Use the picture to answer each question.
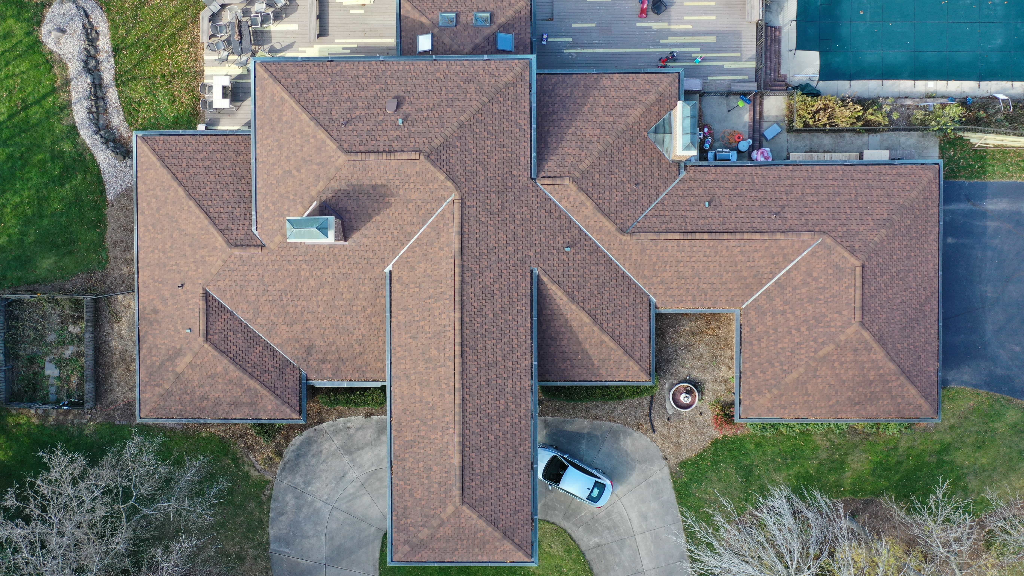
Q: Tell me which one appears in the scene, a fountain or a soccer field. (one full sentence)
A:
Visible in the photo is a fountain.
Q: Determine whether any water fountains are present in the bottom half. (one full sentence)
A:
Yes, you'll find a water fountain in the bottom half.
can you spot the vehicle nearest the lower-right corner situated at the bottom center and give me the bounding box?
[537,443,615,507]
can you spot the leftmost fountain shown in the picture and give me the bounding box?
[669,383,699,412]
